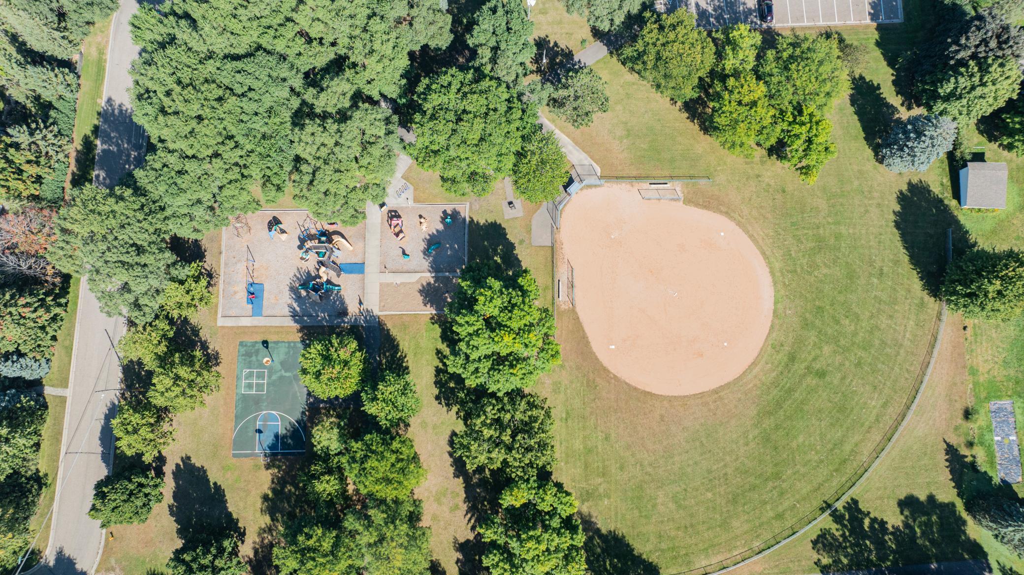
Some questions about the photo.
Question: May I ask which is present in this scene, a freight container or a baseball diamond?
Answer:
baseball diamond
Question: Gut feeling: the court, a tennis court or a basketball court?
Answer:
basketball court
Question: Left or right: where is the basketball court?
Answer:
left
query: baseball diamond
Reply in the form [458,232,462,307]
[555,182,774,396]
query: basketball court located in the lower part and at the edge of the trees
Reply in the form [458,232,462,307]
[232,341,307,458]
